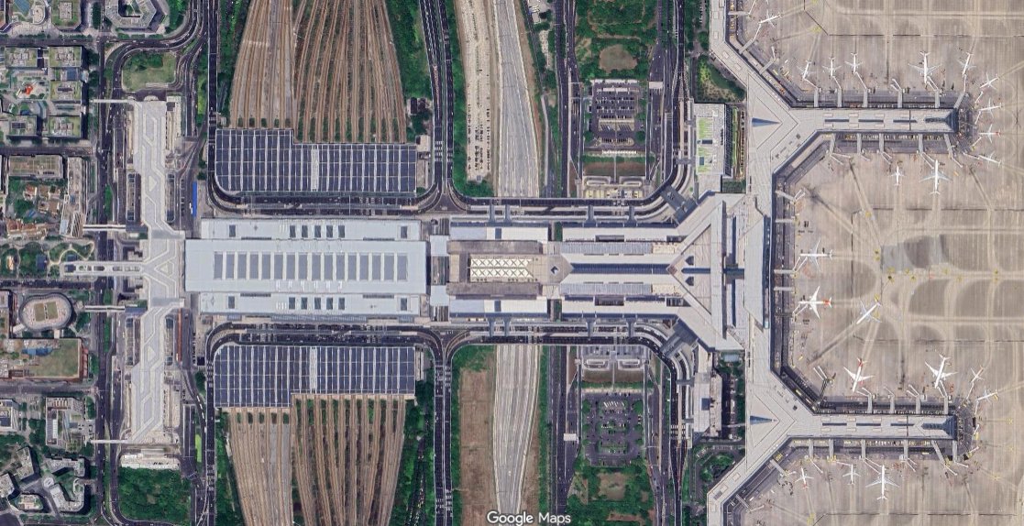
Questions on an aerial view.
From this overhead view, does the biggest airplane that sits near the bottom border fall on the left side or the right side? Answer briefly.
right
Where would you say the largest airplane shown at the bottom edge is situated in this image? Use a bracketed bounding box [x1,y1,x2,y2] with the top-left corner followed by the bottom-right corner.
[865,465,900,500]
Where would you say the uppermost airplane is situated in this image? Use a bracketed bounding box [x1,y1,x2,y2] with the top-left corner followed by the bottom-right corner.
[760,8,782,27]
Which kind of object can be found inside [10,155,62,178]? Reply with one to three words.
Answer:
building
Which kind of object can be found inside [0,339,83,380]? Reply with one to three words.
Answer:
building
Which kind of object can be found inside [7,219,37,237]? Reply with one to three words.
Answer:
house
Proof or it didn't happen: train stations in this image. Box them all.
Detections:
[186,219,430,316]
